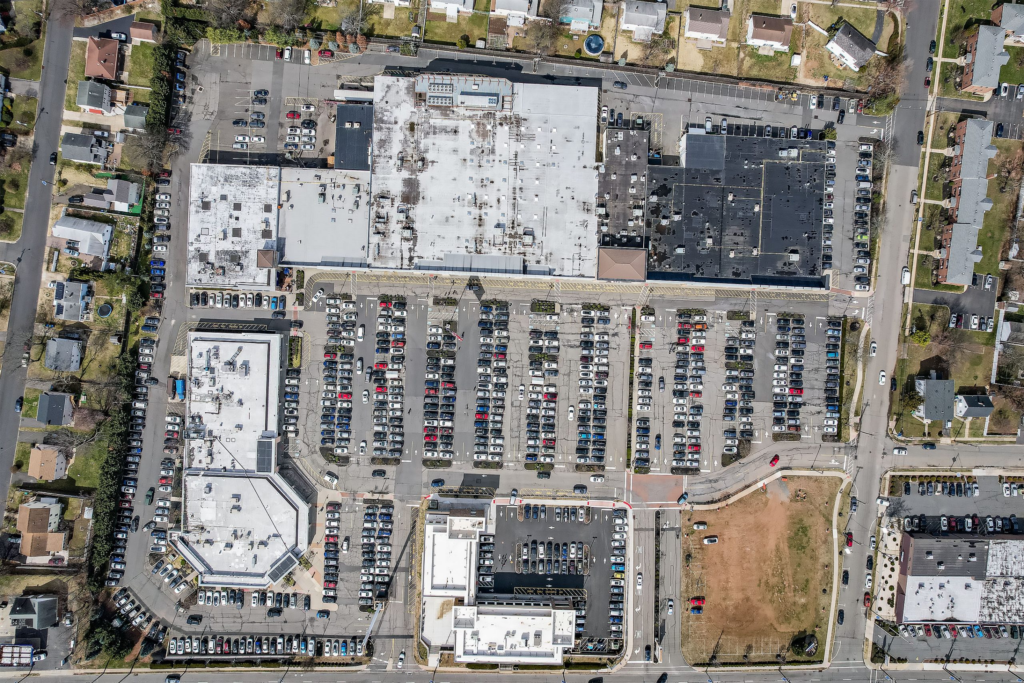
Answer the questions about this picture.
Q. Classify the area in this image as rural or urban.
urban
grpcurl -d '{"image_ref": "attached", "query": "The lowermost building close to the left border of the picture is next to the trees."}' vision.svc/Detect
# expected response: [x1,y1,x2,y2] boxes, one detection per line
[15,589,69,633]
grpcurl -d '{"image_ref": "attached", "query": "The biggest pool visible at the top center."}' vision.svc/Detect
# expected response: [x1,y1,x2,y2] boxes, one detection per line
[585,33,604,54]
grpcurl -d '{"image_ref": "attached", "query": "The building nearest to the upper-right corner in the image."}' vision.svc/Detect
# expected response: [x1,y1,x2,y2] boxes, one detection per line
[983,1,1024,42]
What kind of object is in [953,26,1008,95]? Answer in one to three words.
building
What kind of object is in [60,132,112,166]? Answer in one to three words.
house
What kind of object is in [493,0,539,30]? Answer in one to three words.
house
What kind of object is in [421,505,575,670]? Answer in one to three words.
building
